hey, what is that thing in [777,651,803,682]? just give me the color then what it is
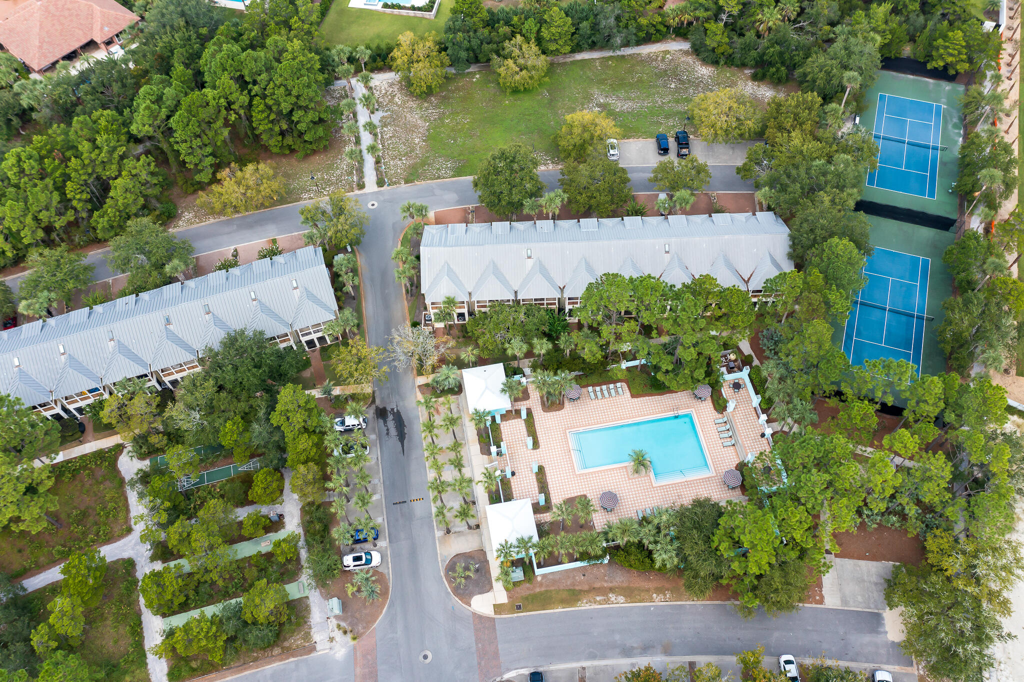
white car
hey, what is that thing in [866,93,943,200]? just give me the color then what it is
blue tennis court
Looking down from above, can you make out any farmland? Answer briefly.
No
